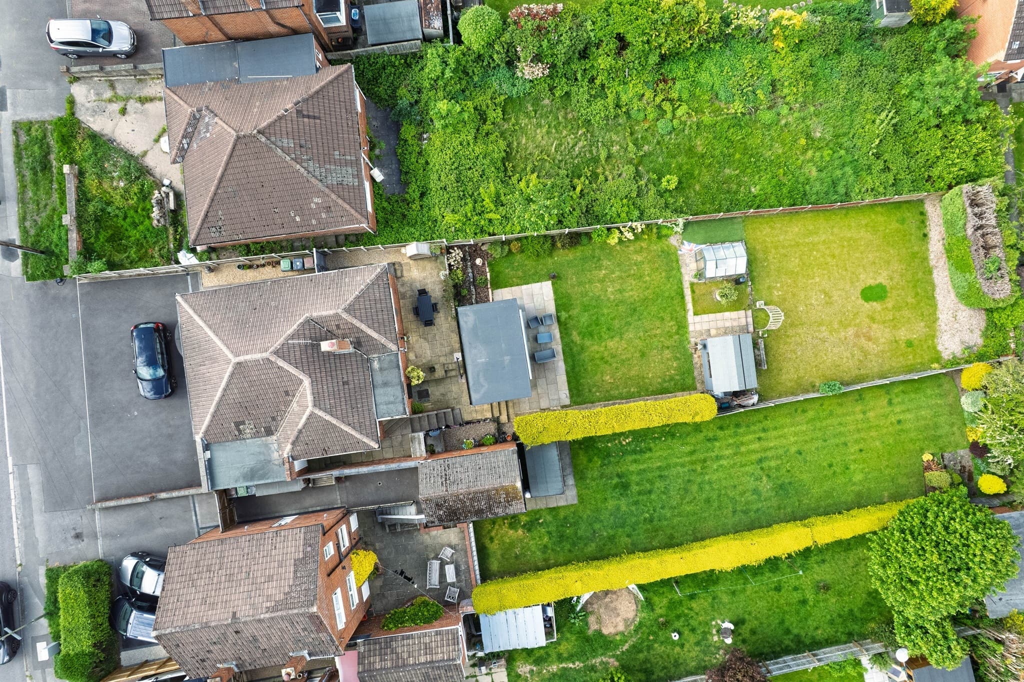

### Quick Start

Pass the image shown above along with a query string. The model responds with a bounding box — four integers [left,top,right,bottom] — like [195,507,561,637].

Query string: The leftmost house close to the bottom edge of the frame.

[151,504,373,682]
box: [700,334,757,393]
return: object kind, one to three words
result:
shed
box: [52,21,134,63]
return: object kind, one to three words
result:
car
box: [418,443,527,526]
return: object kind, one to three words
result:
building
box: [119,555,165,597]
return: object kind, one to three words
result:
car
